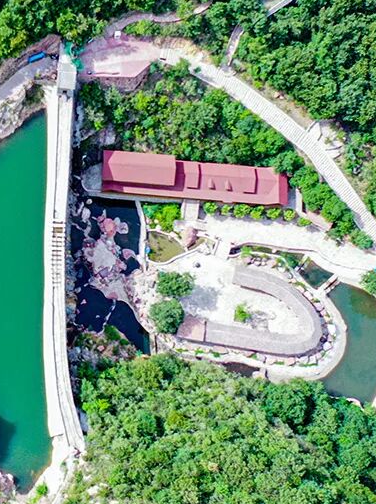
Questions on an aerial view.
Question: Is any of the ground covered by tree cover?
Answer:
Yes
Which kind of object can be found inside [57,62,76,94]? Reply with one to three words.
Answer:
building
